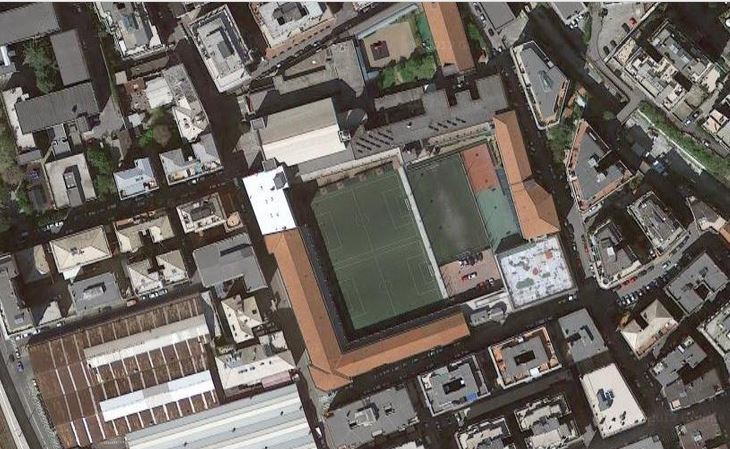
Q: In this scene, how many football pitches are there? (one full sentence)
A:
The photo contains 2 football pitches.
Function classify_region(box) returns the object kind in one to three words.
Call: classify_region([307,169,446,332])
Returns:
soccer field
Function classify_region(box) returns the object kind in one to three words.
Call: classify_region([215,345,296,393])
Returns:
house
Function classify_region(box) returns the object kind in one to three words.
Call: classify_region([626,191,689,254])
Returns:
building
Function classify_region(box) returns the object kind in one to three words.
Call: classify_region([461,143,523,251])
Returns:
sports court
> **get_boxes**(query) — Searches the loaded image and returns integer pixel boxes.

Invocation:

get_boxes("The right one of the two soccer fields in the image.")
[406,153,487,267]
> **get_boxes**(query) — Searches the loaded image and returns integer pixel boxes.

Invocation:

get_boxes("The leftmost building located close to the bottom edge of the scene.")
[29,291,219,449]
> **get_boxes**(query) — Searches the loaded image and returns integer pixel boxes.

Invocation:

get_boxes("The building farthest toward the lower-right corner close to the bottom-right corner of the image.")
[674,414,723,449]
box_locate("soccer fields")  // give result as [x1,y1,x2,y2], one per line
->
[307,169,446,332]
[406,153,487,267]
